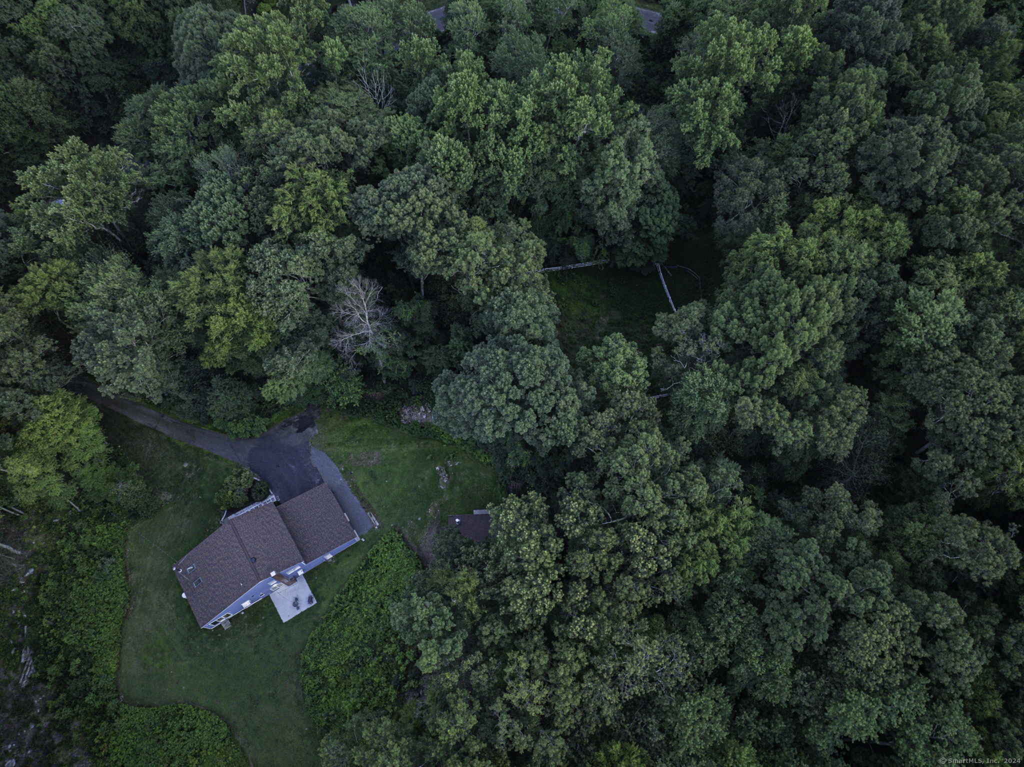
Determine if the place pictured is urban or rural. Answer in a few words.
rural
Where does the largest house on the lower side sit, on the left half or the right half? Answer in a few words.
left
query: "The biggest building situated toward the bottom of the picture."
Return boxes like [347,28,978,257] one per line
[174,480,361,629]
